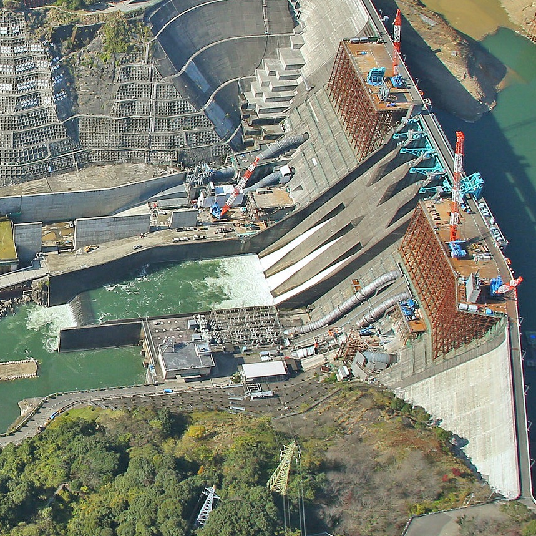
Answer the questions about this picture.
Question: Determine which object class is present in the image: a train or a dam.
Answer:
dam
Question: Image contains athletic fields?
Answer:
No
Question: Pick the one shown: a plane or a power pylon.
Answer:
power pylon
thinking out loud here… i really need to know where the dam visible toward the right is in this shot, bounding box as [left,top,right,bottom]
[248,0,535,500]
